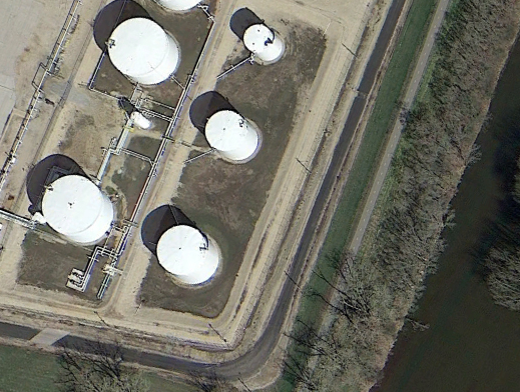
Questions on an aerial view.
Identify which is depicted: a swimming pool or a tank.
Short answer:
tank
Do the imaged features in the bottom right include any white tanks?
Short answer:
No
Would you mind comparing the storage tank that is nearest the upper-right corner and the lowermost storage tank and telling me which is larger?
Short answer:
the lowermost storage tank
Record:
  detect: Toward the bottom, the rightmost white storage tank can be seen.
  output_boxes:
[157,224,221,287]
